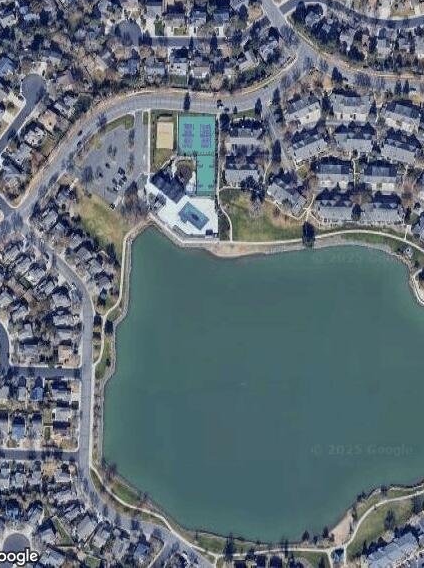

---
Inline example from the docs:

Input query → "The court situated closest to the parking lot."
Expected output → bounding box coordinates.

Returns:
[156,122,173,148]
